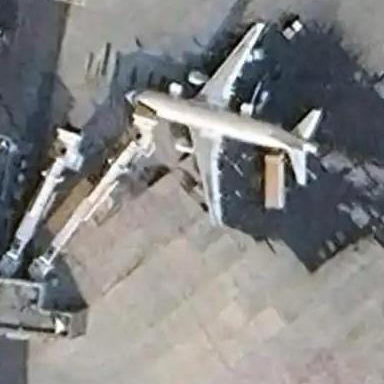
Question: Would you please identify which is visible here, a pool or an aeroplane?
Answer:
aeroplane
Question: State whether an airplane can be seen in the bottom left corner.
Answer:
No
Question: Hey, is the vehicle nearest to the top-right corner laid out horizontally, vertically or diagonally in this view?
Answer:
diagonally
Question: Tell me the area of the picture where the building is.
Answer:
bottom left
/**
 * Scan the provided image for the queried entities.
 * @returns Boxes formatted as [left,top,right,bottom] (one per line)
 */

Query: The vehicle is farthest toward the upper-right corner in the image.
[281,20,303,39]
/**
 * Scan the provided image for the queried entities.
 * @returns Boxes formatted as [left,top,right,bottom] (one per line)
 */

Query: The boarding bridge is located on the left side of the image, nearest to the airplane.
[29,102,158,280]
